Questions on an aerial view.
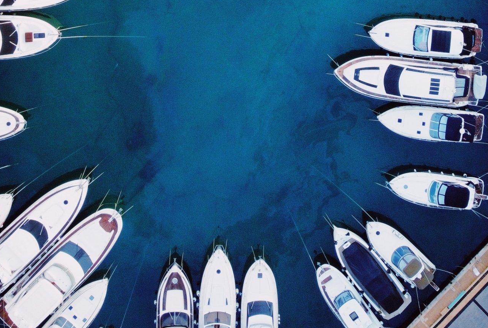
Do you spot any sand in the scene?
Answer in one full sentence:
No, the scene doesn't show any sand.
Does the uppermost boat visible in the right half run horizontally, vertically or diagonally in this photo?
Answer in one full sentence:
What the image shows is the uppermost boat visible in the right half lying horizontally.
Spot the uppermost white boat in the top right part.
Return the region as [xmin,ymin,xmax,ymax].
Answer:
[365,15,483,59]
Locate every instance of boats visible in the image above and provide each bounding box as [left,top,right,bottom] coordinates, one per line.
[241,255,280,328]
[475,65,488,106]
[0,12,65,58]
[0,106,30,140]
[197,242,237,328]
[331,226,411,323]
[0,191,16,233]
[330,55,479,109]
[365,15,483,59]
[42,275,110,328]
[385,168,488,211]
[364,219,434,291]
[314,263,383,328]
[0,208,123,328]
[373,103,485,147]
[0,174,93,295]
[156,260,194,328]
